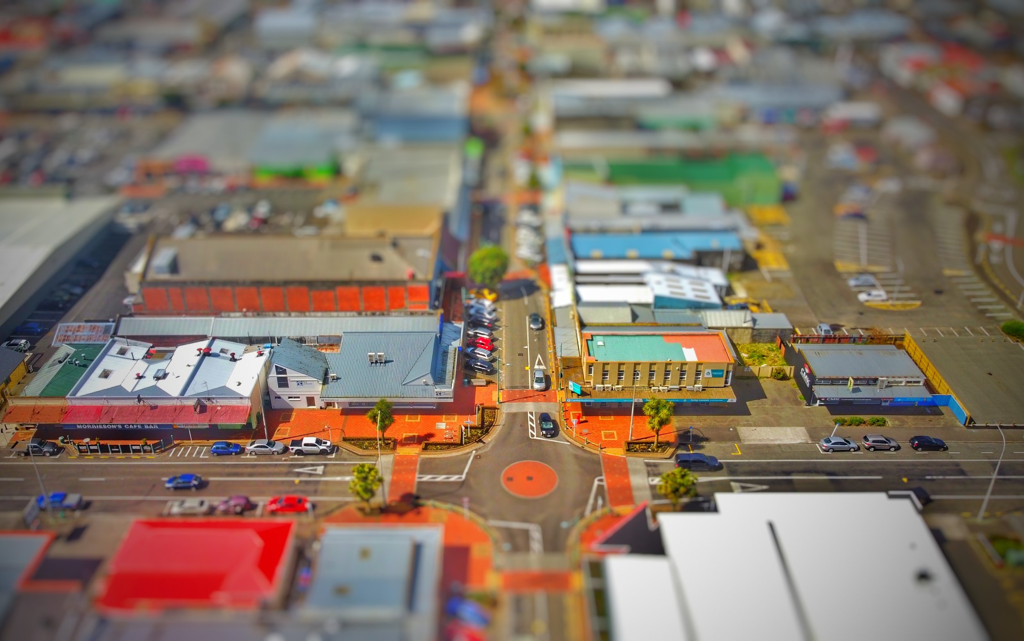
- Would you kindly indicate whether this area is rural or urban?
urban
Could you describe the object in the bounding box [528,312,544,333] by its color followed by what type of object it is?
gray car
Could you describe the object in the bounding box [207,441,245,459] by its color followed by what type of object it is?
blue car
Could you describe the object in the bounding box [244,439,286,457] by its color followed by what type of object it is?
gray car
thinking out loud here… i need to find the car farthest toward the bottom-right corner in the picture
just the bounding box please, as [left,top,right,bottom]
[903,487,945,508]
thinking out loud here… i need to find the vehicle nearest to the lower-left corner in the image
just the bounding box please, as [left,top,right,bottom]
[37,490,88,511]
